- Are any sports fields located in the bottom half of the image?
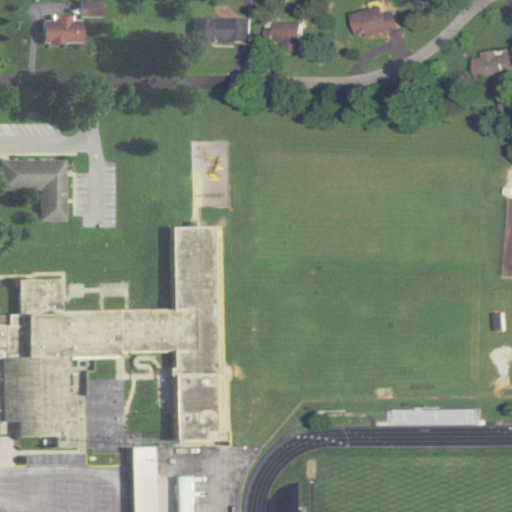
Yes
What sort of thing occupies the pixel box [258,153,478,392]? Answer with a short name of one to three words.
sports field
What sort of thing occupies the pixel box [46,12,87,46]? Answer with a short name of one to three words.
house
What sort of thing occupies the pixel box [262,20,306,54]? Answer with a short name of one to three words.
house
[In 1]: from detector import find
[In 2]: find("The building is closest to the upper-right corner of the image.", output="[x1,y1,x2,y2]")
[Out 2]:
[470,49,512,78]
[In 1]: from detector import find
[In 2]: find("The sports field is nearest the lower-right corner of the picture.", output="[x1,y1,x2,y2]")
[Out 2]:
[267,446,512,512]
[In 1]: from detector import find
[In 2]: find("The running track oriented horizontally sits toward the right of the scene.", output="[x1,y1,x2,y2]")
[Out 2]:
[240,422,512,512]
